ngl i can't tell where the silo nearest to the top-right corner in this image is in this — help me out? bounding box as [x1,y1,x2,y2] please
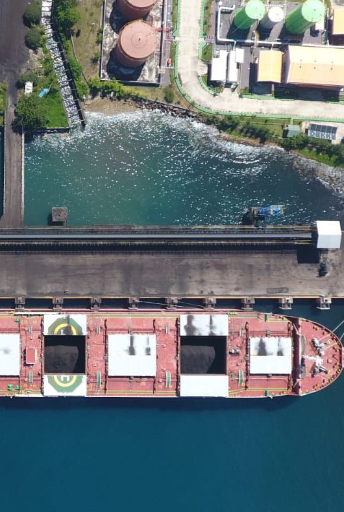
[284,0,327,36]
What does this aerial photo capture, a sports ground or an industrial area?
industrial area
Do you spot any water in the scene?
Yes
